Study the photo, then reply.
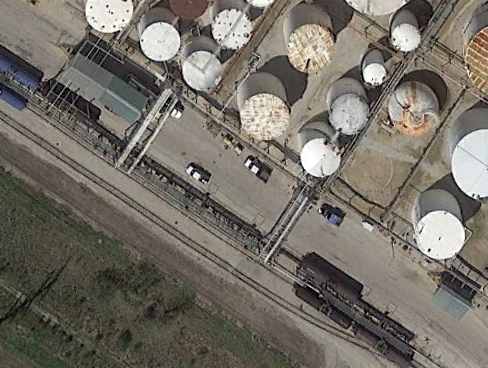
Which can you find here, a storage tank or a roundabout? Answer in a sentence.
I can see a storage tank in this picture.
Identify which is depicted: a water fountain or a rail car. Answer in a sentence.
Visible in the photo is a rail car.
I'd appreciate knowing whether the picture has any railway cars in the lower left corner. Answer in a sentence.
No, there's no railway car to be seen in the lower left corner.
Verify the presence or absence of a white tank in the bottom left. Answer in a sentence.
No, I can find no white tank in the bottom left.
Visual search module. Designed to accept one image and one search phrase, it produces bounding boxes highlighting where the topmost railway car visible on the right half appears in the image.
[301,261,360,305]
